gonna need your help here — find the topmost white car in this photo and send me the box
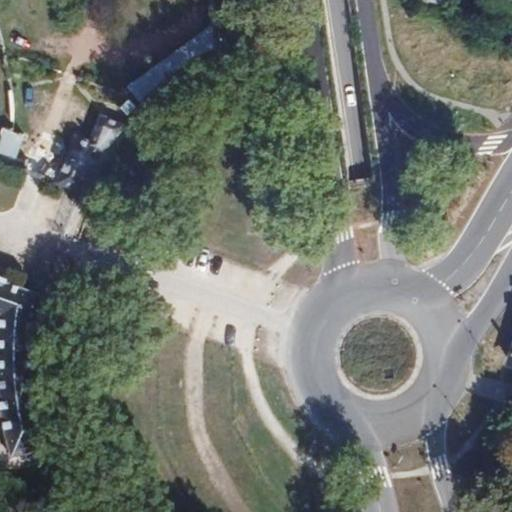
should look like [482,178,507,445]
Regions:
[12,34,32,51]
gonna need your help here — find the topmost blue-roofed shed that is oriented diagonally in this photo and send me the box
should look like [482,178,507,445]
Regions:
[128,26,214,100]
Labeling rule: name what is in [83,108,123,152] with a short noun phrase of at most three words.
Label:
house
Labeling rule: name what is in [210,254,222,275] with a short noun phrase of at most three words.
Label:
vehicle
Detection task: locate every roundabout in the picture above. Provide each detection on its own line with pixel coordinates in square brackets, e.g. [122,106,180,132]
[291,258,468,452]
